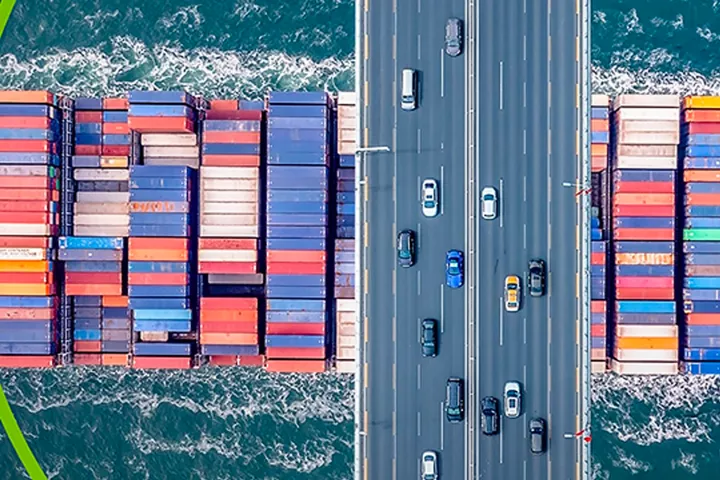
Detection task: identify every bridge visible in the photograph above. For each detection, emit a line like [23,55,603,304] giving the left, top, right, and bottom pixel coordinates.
[356,0,591,480]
